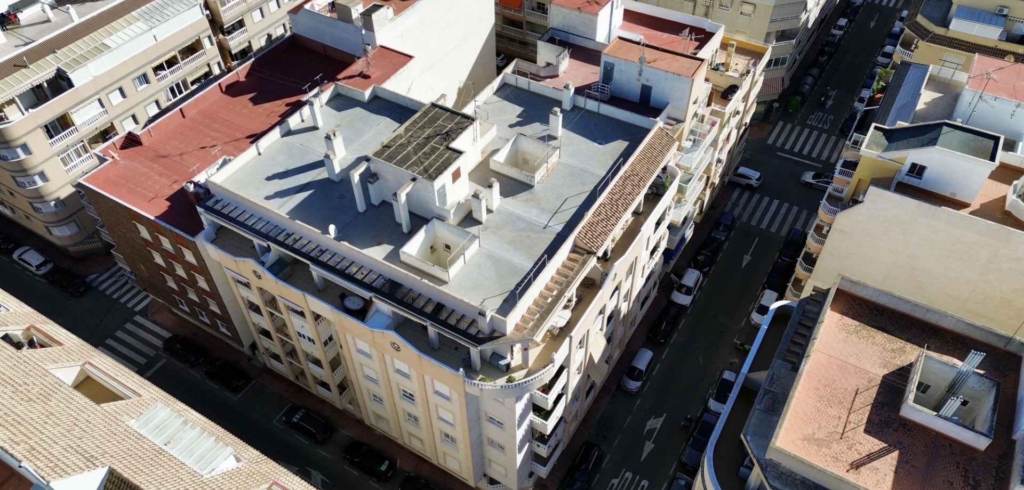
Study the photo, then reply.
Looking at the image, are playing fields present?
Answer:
No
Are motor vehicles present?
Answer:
Yes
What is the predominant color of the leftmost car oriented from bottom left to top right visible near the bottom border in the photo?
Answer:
black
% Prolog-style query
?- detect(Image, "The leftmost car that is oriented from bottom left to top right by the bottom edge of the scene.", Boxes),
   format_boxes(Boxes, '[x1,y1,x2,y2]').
[560,430,612,490]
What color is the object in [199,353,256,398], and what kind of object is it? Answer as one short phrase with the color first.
black car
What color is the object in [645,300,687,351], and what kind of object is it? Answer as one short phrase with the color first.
black car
